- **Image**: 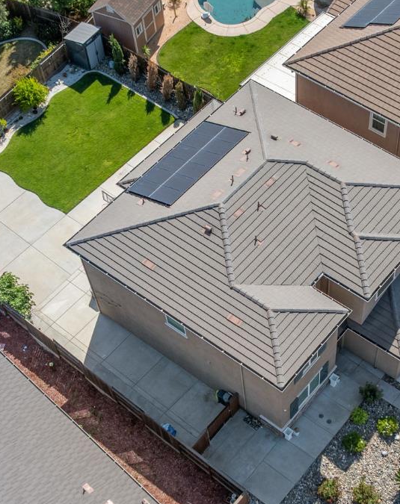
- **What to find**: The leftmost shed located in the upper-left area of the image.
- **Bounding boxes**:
[66,14,107,69]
